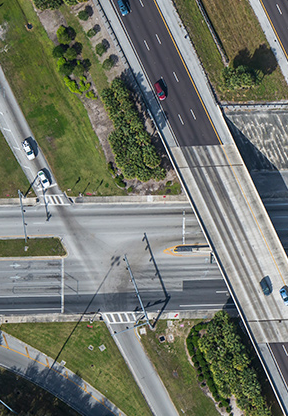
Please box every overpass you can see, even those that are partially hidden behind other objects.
[140,101,288,378]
